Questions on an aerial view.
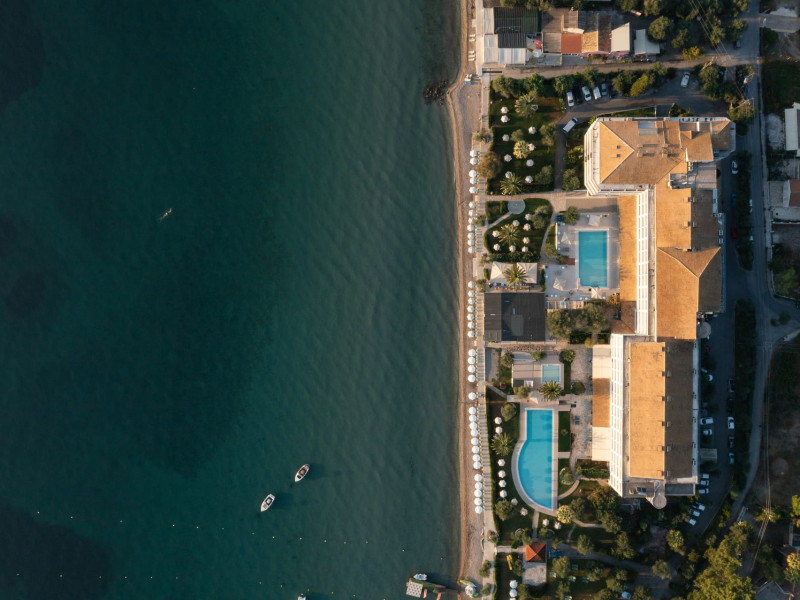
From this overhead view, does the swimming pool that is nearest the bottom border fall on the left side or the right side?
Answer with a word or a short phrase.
right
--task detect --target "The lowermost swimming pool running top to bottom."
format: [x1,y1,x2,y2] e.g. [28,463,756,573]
[516,408,554,511]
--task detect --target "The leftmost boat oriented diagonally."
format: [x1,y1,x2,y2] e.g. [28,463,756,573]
[261,493,275,512]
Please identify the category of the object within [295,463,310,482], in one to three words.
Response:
boat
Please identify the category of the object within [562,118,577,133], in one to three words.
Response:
vehicle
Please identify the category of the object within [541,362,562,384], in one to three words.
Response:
swimming pool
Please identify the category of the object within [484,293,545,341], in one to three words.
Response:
building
